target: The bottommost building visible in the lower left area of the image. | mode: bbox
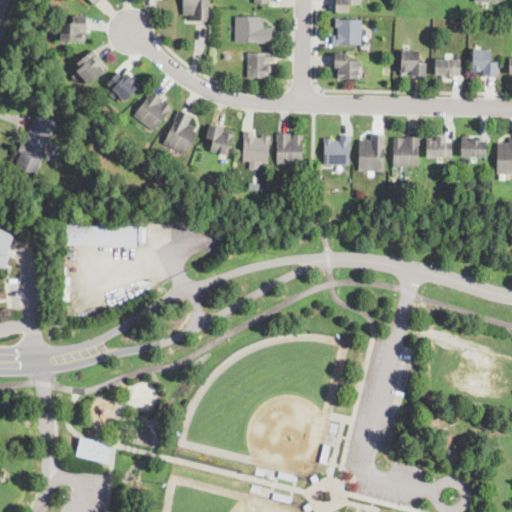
[75,438,113,465]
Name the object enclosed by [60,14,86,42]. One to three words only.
house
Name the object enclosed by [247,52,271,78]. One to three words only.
house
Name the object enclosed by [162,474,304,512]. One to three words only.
sports field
